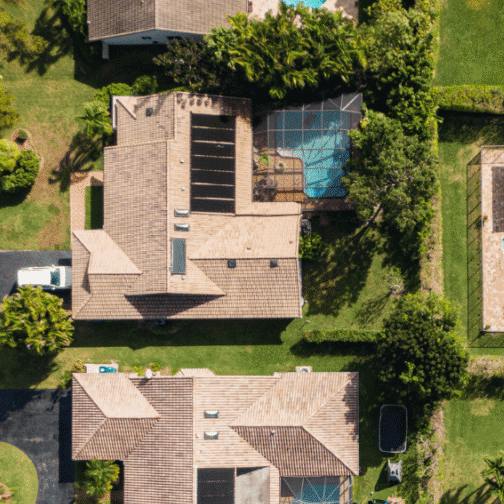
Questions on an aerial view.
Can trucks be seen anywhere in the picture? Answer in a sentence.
No, there isn't any truck down there.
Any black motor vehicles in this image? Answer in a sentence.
No, I can see no black motor vehicle in this picture.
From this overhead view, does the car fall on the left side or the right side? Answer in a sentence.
You can find the car on the left side of the picture.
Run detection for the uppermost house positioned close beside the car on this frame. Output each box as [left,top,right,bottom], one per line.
[71,88,302,319]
